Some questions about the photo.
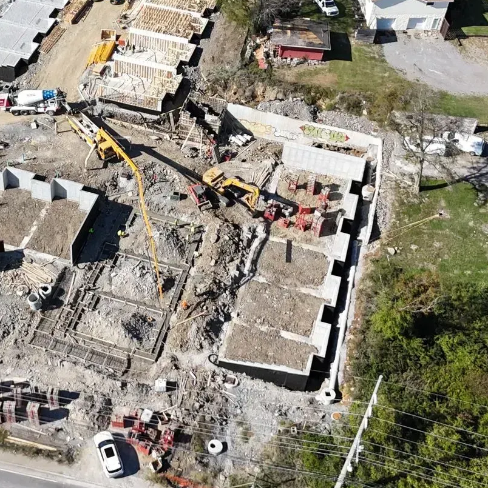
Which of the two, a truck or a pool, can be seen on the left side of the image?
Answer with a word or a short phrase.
truck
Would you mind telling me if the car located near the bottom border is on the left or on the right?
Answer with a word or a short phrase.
left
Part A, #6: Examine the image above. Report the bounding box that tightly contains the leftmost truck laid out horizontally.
[0,89,74,117]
